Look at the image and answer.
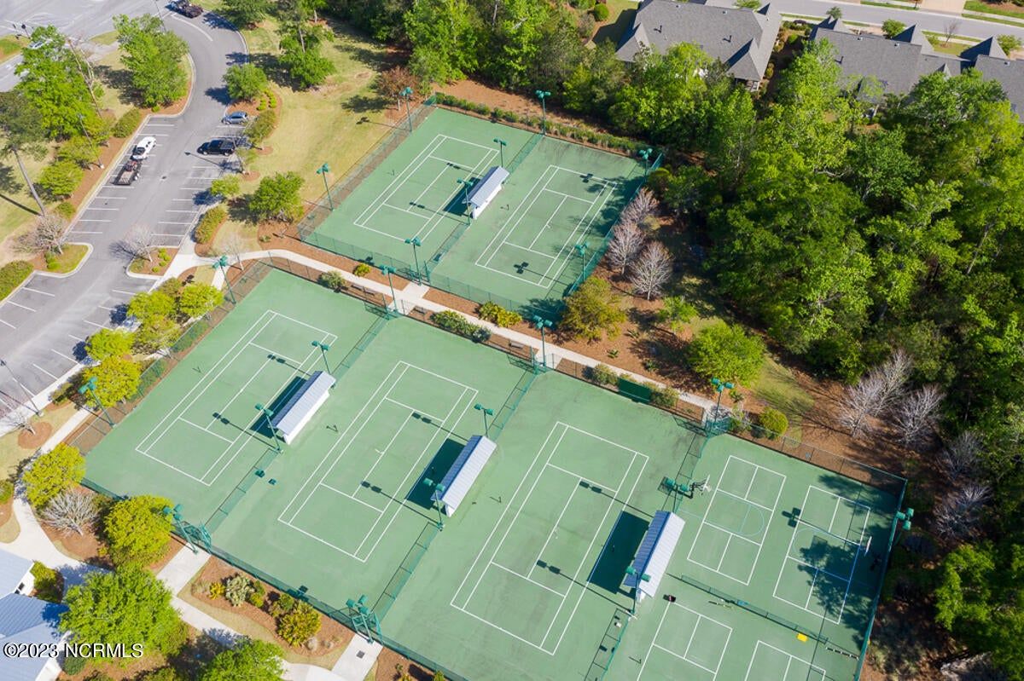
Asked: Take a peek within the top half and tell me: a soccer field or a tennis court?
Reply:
tennis court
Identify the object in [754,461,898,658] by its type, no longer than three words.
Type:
sports court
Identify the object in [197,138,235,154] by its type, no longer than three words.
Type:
vehicle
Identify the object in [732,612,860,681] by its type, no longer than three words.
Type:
sports court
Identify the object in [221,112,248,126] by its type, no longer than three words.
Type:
car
